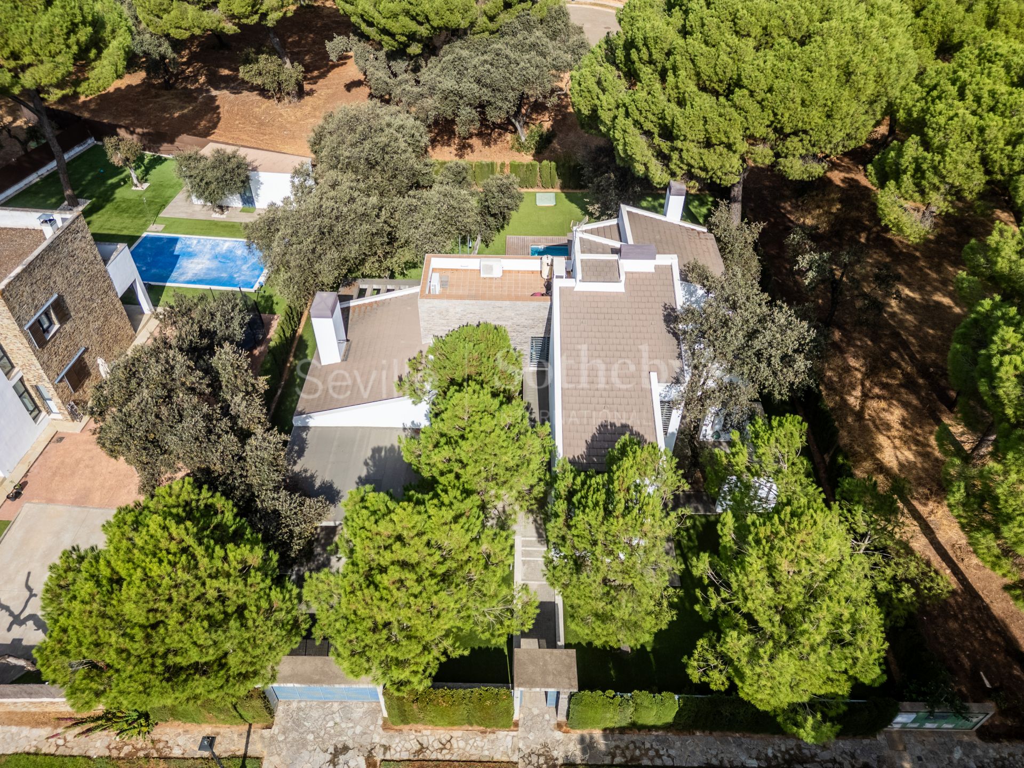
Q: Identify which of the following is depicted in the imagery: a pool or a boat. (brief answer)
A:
pool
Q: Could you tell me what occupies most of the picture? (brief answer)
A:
trees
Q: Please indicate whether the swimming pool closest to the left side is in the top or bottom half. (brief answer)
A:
top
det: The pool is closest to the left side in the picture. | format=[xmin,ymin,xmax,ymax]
[138,232,257,291]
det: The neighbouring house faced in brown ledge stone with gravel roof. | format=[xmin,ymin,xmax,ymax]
[0,198,162,535]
